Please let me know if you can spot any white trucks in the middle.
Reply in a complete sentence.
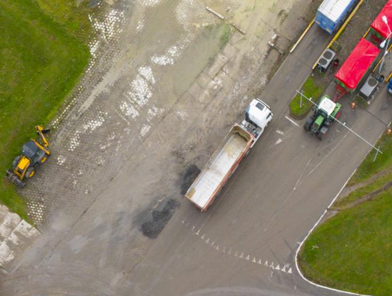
Yes, looking in the middle, one can make out a white truck.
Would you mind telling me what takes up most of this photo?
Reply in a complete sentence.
Most of the picture is covered by paved ground.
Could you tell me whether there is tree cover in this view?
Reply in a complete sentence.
No, no tree cover is visible.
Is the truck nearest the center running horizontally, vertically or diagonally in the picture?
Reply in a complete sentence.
The truck nearest the center is laid out diagonally.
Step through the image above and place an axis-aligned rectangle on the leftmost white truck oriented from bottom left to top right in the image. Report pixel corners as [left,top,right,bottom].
[185,101,275,214]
